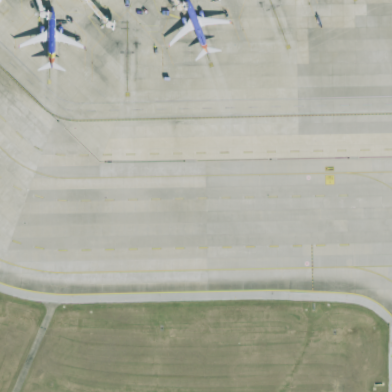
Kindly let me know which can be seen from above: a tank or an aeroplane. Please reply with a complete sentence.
There is an aeroplane in the scene.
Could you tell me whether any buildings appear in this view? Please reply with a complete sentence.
No, I can't see a single building in this photo.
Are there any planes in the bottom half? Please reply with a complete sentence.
No, there's no plane to be seen in the bottom half.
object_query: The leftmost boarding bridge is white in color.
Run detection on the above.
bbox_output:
[34,0,50,18]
